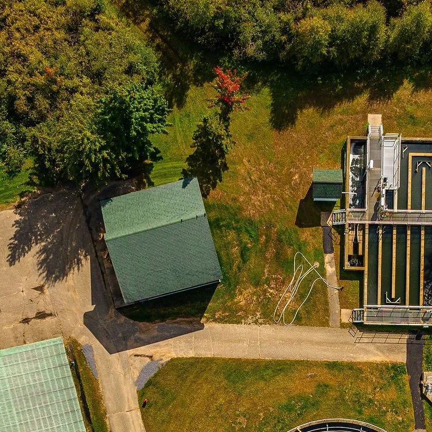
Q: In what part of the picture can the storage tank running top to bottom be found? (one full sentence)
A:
The storage tank running top to bottom is in the right part of the image.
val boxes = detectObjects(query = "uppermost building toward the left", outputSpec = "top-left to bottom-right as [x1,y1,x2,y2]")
[100,177,222,304]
